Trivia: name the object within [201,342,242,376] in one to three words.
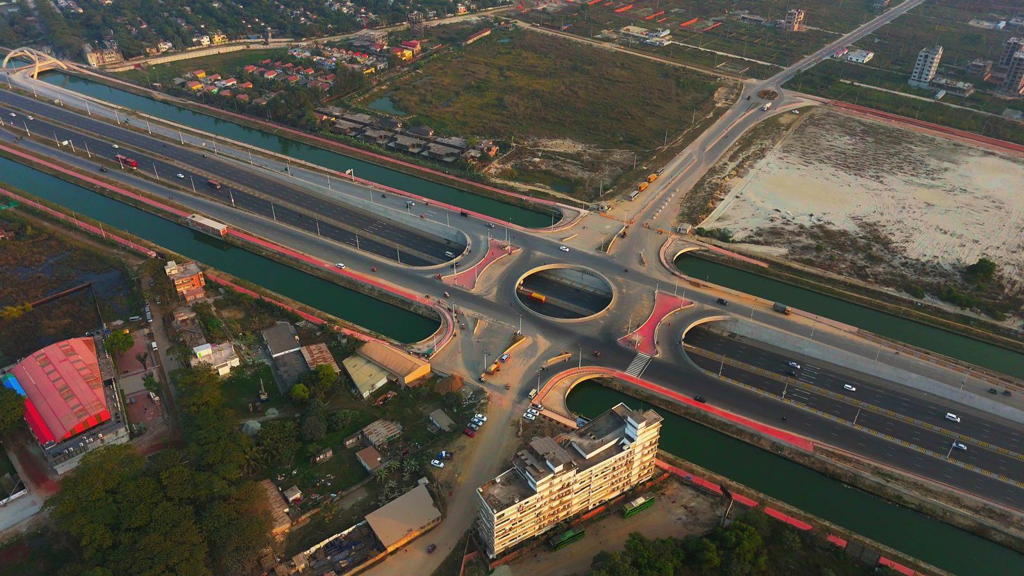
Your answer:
house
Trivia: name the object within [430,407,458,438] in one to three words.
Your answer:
shed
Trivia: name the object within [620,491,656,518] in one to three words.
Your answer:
bus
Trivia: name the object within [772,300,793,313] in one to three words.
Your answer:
vehicle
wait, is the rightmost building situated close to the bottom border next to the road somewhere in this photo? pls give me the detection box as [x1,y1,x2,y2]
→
[474,398,664,554]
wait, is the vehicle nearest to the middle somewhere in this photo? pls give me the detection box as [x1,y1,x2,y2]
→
[527,290,550,303]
